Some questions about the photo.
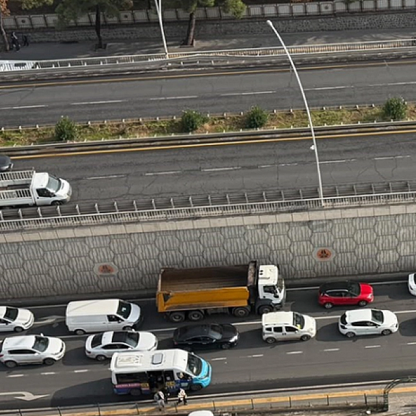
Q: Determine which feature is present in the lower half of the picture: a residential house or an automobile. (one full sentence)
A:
It is an automobile that can be seen in the lower half of the picture.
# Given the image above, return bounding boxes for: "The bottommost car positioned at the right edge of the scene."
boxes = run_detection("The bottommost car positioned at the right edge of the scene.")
[339,308,399,339]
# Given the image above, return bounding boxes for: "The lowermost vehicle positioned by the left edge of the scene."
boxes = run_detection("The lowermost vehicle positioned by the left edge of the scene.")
[0,336,64,369]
